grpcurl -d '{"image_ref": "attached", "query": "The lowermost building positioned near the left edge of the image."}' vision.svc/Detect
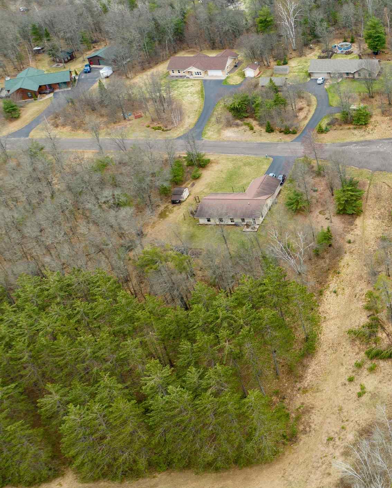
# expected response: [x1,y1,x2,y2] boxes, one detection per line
[0,71,94,103]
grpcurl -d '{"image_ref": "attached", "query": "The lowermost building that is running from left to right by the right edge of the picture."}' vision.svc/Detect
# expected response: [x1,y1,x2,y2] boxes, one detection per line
[307,58,381,80]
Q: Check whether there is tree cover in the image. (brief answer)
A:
Yes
